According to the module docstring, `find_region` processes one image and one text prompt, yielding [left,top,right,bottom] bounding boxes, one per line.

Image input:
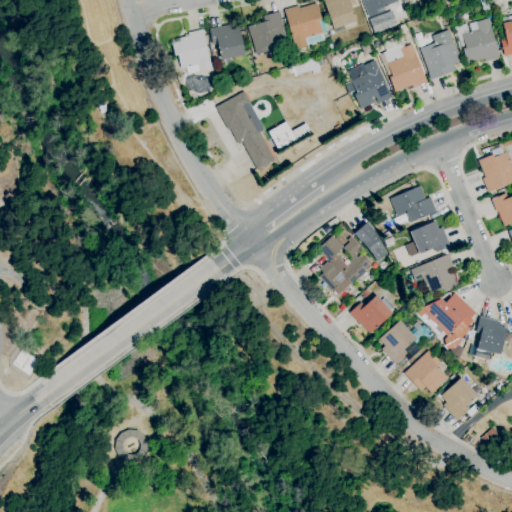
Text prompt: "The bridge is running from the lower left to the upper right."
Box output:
[30,256,223,410]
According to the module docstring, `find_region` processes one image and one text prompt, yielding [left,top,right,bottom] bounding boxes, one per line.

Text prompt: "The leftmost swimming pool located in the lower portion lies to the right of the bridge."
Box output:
[414,324,434,344]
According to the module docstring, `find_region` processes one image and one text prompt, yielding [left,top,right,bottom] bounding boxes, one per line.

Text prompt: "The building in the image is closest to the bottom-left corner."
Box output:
[12,352,36,375]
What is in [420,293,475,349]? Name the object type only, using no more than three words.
house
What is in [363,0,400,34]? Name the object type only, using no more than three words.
house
